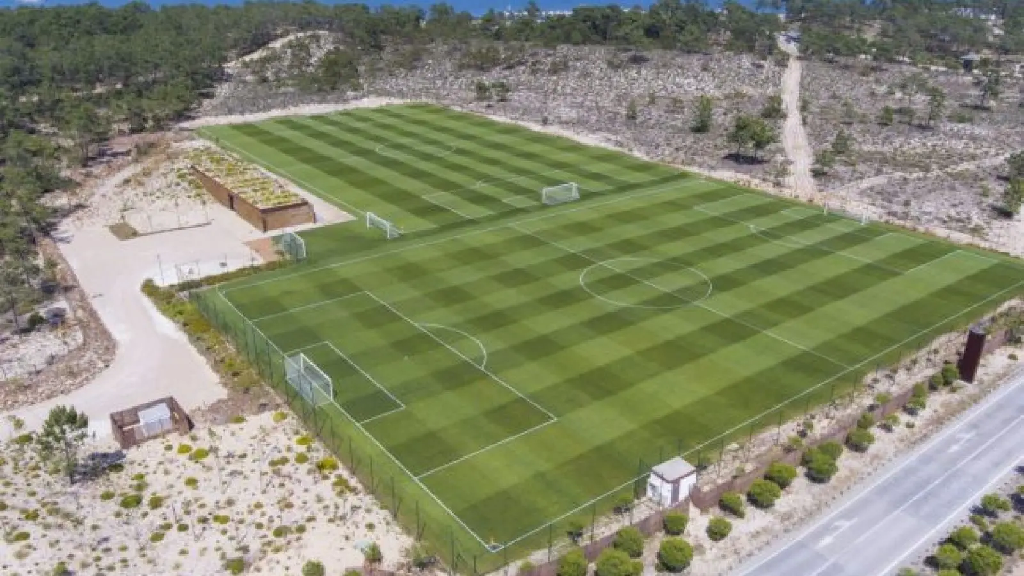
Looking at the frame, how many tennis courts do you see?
0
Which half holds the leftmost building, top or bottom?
top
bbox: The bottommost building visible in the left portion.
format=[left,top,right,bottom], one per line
[186,155,315,232]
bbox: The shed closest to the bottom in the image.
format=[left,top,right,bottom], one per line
[644,455,700,507]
